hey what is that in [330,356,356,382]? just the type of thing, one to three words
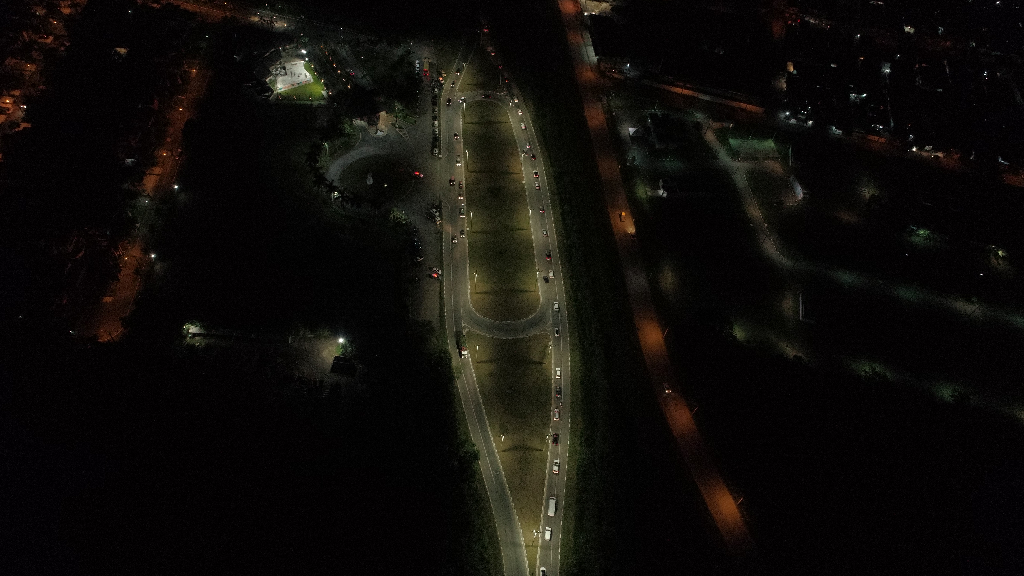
shed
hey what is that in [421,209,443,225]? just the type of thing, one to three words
vehicle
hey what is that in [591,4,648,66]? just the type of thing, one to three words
building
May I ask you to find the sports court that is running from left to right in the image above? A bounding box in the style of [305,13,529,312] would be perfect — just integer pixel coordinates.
[729,138,779,160]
